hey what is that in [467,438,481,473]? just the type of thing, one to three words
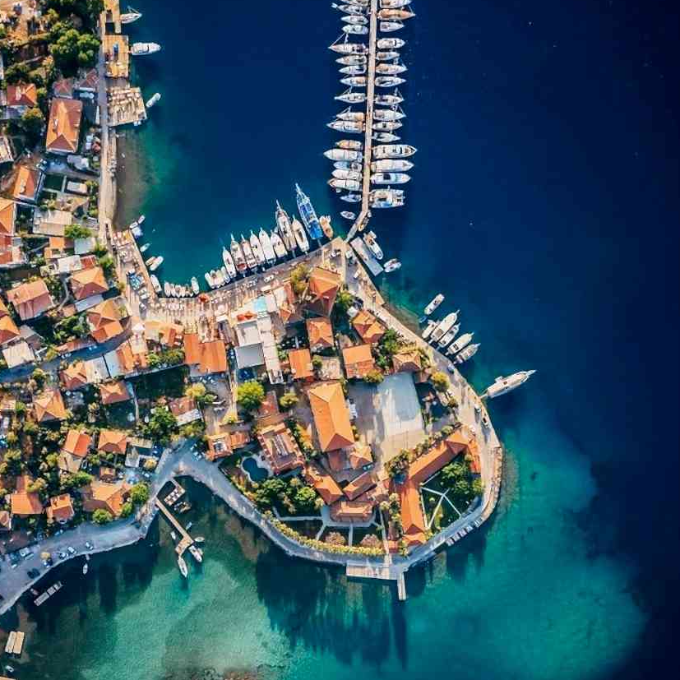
house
